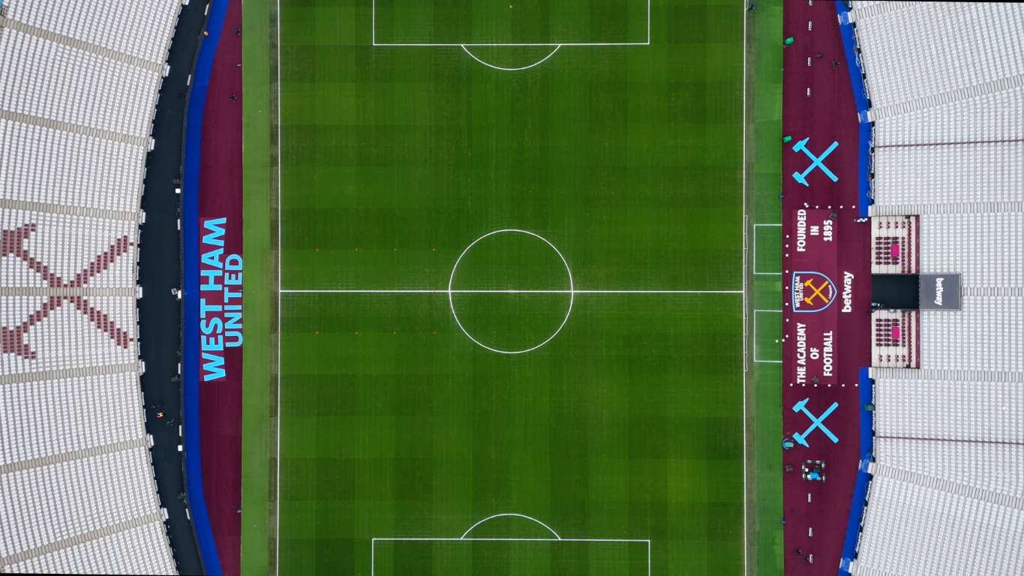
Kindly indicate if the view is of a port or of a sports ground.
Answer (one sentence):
This looks like a sports ground.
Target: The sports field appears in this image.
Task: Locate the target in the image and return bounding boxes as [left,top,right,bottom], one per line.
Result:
[277,0,783,576]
